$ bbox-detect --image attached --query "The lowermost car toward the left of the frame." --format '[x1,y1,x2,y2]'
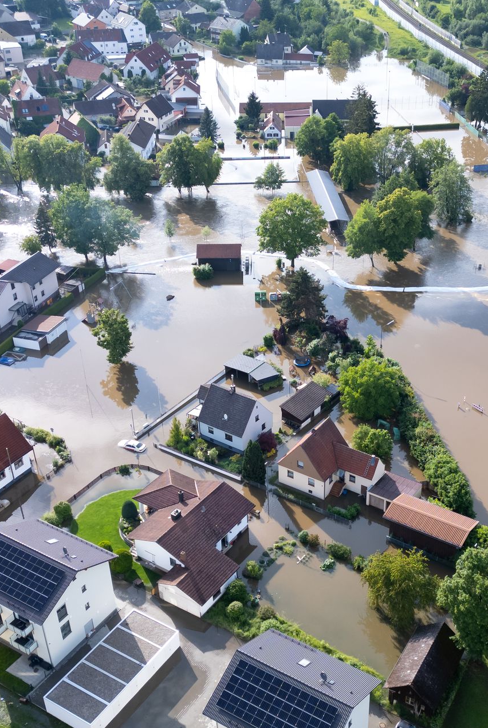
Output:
[119,441,147,454]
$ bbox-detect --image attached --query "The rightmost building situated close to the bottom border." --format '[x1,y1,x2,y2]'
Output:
[384,623,466,723]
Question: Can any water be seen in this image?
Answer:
Yes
